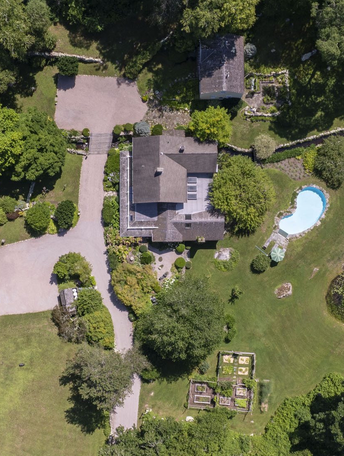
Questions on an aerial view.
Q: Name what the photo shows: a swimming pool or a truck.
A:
swimming pool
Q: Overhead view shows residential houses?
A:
Yes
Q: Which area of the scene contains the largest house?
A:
center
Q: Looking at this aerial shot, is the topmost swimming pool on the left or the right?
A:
right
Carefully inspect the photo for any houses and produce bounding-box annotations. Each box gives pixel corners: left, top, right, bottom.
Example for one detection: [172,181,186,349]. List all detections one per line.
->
[119,131,225,241]
[195,29,244,98]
